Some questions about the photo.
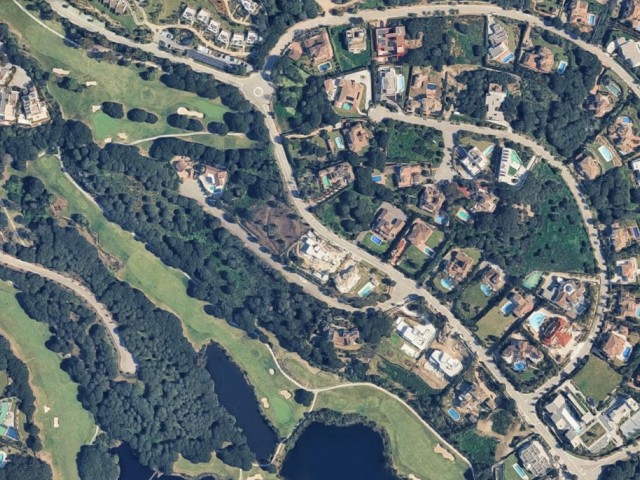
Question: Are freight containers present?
No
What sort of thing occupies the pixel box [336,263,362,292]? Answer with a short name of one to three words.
building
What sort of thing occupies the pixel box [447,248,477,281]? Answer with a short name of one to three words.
house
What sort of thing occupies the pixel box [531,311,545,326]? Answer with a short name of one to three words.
swimming pool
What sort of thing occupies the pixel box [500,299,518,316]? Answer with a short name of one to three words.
swimming pool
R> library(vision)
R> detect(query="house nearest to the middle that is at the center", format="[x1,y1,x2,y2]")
[306,232,345,268]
